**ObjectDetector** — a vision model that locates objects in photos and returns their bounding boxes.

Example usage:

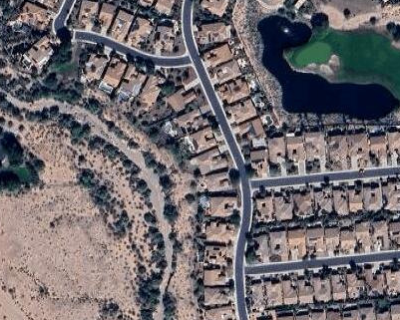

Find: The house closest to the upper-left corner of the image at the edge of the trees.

[20,3,55,24]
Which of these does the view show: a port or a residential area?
residential area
